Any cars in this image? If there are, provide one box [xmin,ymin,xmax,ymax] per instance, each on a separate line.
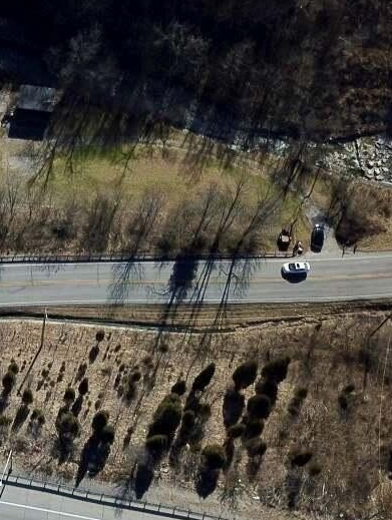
[311,225,326,249]
[280,261,312,275]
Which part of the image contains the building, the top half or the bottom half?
top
